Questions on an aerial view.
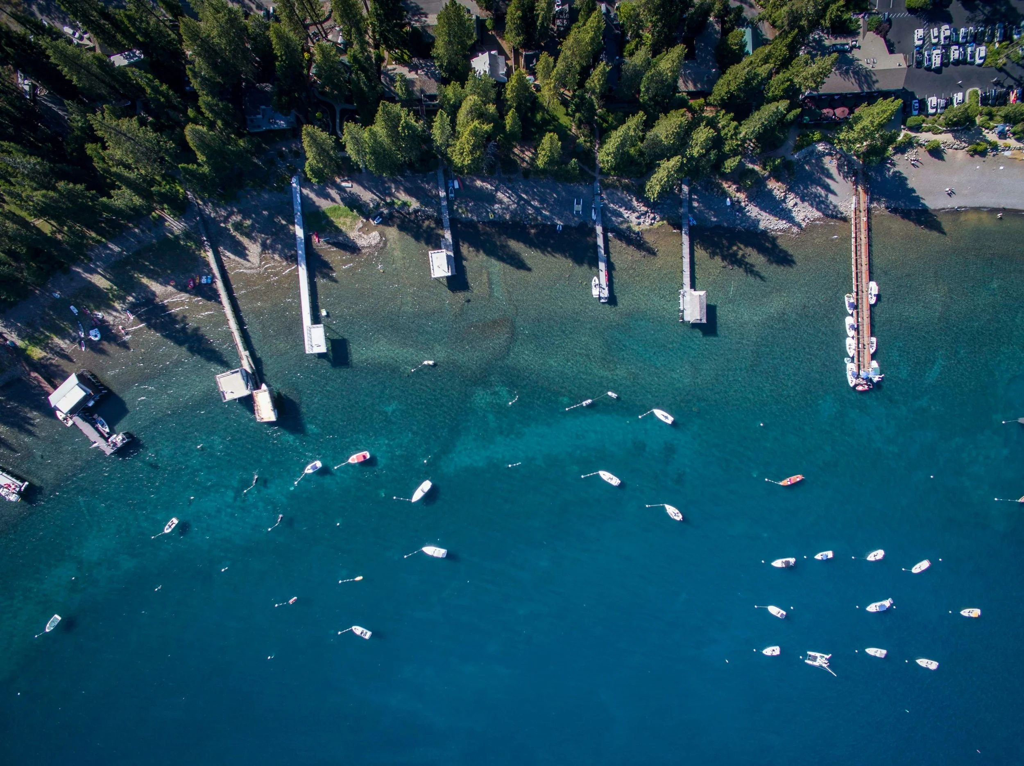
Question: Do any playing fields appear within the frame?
No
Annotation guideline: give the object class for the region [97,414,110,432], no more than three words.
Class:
boat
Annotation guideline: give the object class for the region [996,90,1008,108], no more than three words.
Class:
vehicle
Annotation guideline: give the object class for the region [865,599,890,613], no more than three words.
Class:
boat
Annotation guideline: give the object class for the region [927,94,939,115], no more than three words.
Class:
vehicle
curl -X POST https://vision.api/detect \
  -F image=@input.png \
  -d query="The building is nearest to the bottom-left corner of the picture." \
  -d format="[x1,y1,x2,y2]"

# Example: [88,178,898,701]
[41,369,104,419]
